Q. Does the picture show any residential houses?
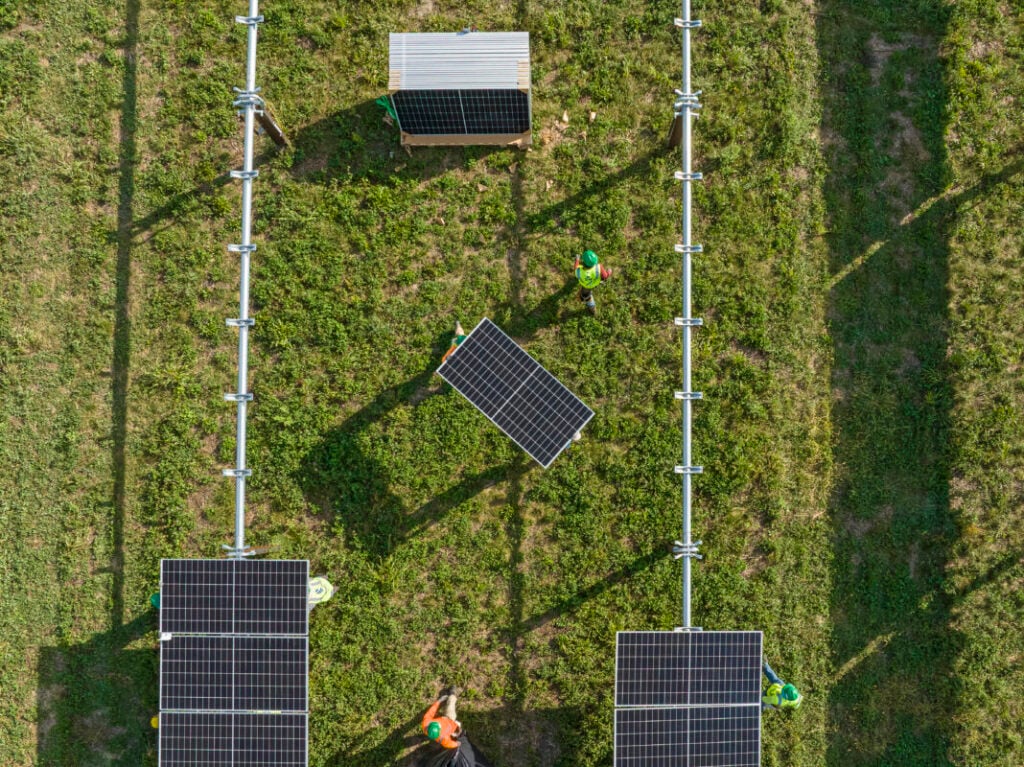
No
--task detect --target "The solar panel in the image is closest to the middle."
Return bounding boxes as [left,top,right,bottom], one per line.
[436,317,593,469]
